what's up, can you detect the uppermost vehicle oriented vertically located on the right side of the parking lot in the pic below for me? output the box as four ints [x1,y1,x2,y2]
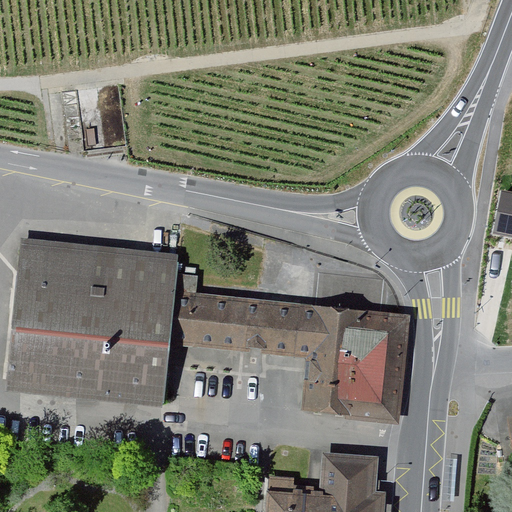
[490,250,502,277]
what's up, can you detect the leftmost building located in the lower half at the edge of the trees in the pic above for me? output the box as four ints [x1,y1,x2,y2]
[6,238,180,408]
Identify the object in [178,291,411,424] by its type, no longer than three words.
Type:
building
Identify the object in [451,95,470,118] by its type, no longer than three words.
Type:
car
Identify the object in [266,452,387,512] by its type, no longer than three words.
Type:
house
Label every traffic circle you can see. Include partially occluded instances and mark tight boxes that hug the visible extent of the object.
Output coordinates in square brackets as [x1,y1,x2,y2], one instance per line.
[358,152,476,272]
